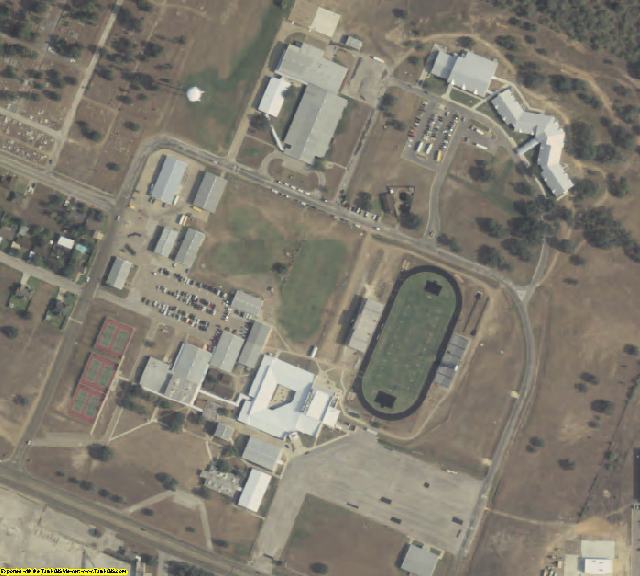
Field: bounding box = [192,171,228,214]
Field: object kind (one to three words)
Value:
building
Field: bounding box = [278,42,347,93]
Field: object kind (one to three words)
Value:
building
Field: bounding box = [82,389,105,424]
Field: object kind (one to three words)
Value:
tennis court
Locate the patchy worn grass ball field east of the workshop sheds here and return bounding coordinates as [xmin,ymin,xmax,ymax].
[204,204,286,275]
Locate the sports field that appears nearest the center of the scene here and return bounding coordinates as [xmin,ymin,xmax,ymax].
[281,237,346,343]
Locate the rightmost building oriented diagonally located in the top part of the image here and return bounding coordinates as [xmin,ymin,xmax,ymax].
[492,88,574,197]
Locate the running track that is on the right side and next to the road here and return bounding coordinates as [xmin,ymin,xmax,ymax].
[352,264,459,421]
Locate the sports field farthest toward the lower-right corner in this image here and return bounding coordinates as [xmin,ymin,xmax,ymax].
[366,271,453,414]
